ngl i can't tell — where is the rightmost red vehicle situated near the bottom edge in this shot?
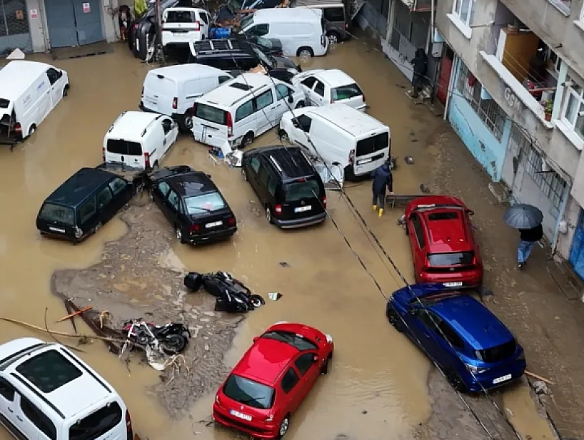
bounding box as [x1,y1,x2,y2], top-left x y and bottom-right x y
[217,323,331,440]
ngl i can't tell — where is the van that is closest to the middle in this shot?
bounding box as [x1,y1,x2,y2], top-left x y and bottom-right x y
[243,144,330,226]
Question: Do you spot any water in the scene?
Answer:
Yes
